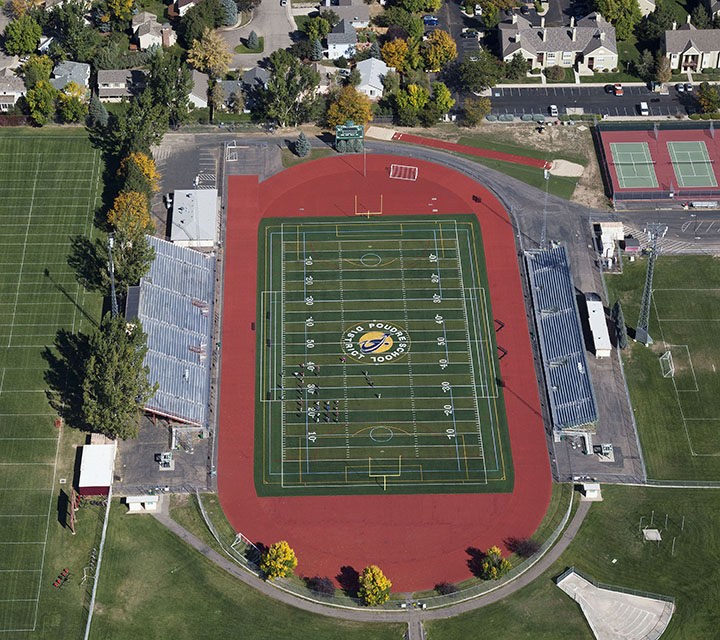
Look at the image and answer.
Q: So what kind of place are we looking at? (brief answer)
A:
sports ground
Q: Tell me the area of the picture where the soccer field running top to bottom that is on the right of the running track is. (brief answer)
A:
right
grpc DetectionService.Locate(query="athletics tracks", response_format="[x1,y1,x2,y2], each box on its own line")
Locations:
[215,154,553,593]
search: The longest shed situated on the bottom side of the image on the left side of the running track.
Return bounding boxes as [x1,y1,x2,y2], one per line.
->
[79,434,116,495]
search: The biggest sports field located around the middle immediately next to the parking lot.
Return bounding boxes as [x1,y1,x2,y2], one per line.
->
[254,213,514,497]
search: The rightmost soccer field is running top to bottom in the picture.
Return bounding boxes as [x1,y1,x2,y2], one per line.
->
[629,252,720,478]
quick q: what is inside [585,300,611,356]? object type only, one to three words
building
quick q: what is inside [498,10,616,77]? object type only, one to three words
building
